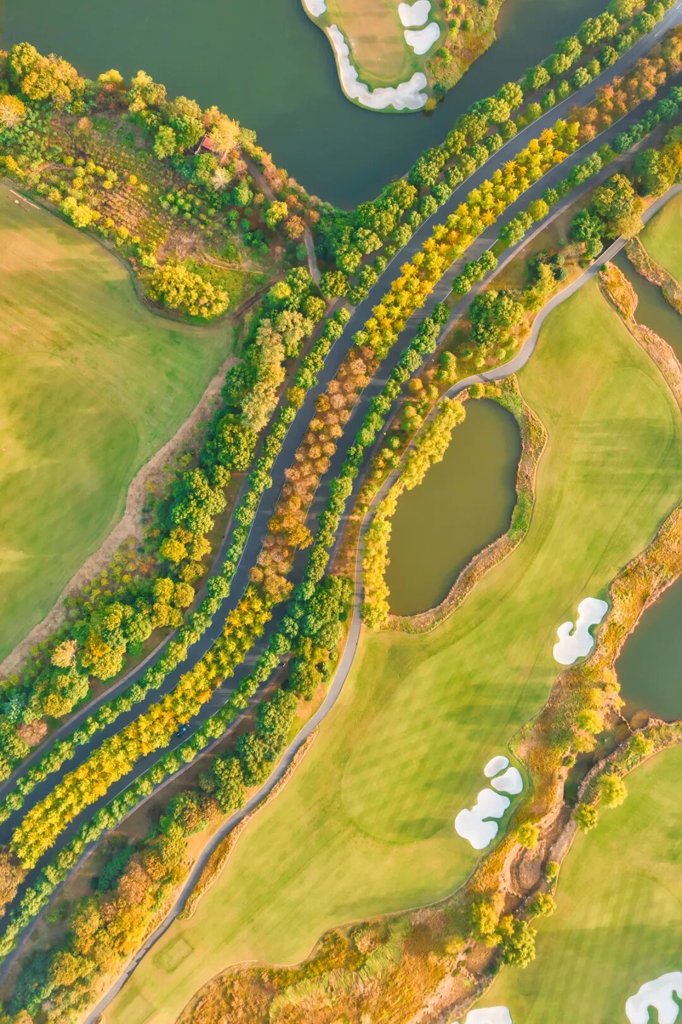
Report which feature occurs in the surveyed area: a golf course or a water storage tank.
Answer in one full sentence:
It is a golf course that can be seen here.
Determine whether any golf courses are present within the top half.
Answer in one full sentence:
Yes, within the top half there is a golf course.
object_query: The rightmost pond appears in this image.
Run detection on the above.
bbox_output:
[615,576,682,734]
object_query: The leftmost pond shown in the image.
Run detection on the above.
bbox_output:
[382,401,521,615]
